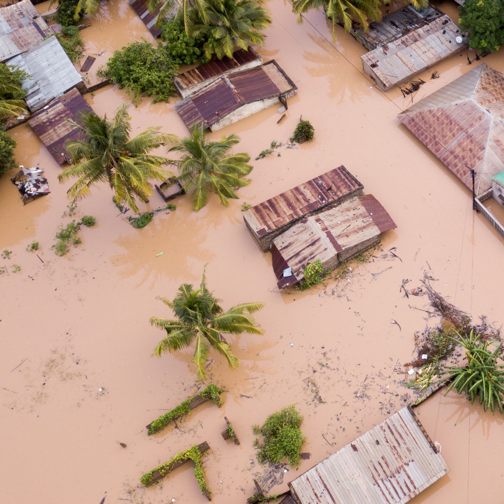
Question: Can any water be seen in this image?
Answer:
Yes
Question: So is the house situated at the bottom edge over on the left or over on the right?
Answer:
right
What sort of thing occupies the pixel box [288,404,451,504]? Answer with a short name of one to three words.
house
